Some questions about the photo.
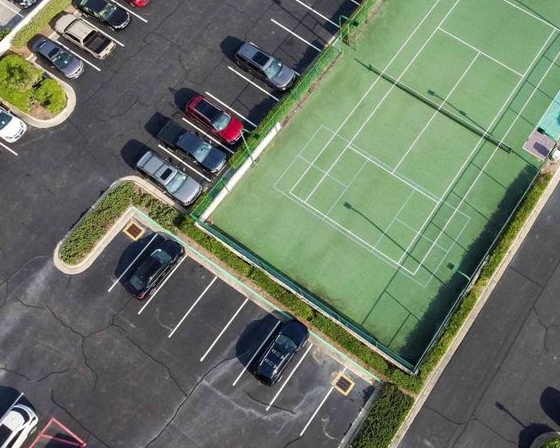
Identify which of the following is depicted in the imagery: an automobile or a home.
automobile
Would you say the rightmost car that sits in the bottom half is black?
Yes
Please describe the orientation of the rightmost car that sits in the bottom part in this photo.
on a diagonal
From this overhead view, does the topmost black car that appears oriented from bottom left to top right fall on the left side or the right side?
left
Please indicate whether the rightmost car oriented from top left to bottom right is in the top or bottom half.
top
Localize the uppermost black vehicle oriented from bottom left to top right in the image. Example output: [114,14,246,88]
[126,237,186,300]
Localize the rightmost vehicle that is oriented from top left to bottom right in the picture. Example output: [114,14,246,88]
[235,42,295,91]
